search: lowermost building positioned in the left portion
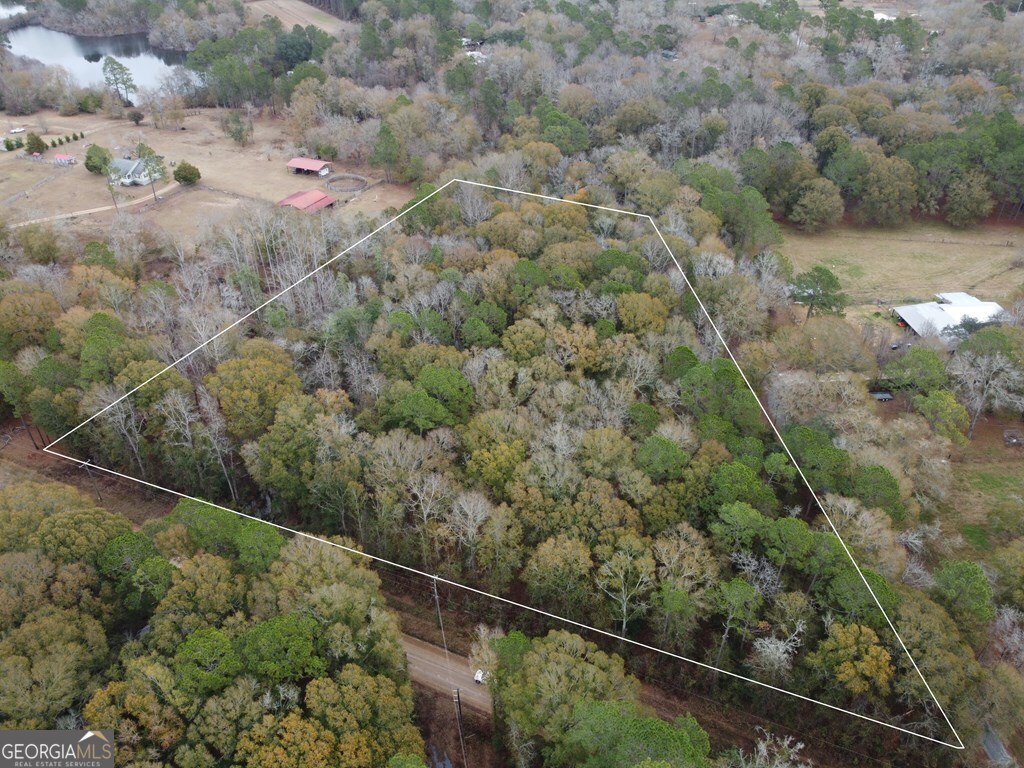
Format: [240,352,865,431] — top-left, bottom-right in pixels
[274,189,339,224]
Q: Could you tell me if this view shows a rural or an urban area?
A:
rural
